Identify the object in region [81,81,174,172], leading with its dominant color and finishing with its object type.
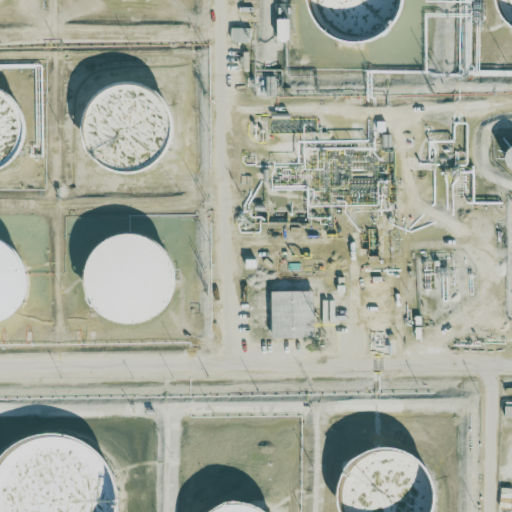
white storage tank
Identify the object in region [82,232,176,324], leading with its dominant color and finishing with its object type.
white storage tank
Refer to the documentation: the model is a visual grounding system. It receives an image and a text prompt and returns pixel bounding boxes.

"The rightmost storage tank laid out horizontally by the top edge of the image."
[308,0,405,42]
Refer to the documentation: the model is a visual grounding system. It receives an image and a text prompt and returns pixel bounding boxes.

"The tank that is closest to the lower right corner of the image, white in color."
[336,446,436,512]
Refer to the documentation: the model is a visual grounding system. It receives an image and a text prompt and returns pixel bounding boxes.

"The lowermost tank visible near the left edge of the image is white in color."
[0,432,120,512]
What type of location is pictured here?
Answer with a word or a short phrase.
industrial area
